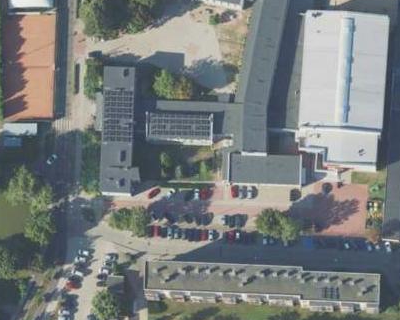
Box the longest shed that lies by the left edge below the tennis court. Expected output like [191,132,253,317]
[2,123,37,137]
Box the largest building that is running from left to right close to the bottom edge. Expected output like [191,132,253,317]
[144,261,380,312]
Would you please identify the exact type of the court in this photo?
tennis court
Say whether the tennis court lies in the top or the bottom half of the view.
top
